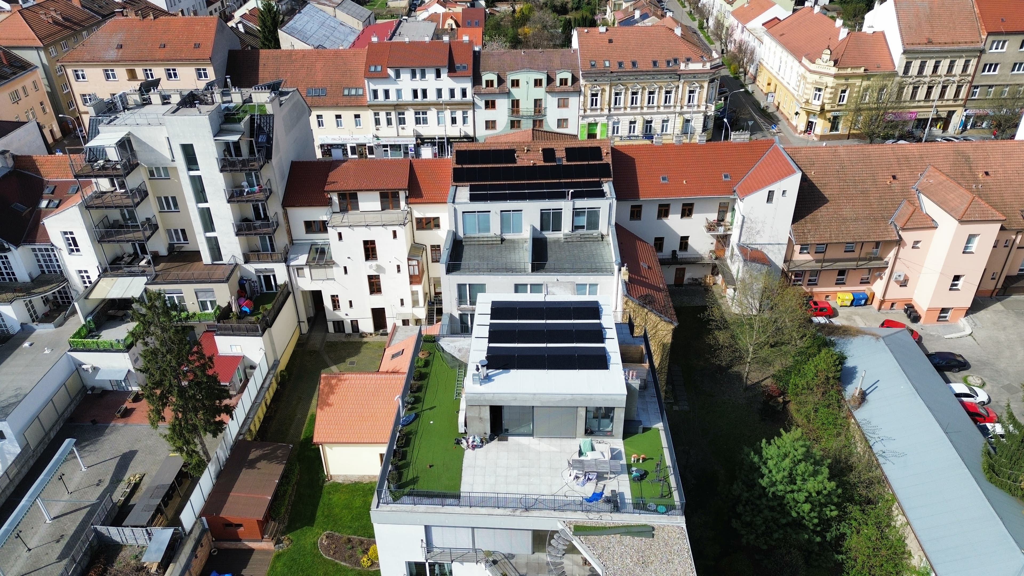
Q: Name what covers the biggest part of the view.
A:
buildings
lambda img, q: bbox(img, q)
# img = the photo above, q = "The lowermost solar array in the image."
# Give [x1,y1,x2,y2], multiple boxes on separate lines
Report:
[468,300,622,371]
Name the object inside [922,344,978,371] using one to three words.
car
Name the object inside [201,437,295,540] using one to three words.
shed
